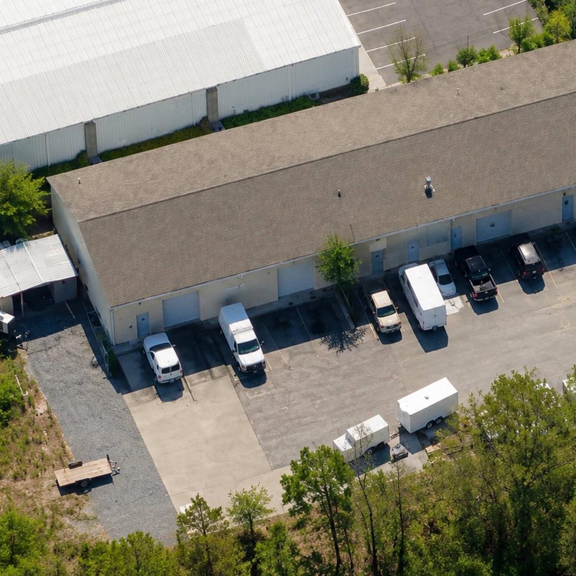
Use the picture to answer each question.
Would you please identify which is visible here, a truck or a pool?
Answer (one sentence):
The one in the frame is a truck.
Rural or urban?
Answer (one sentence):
The area shown here is urban.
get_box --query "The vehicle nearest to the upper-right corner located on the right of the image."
[505,234,543,280]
